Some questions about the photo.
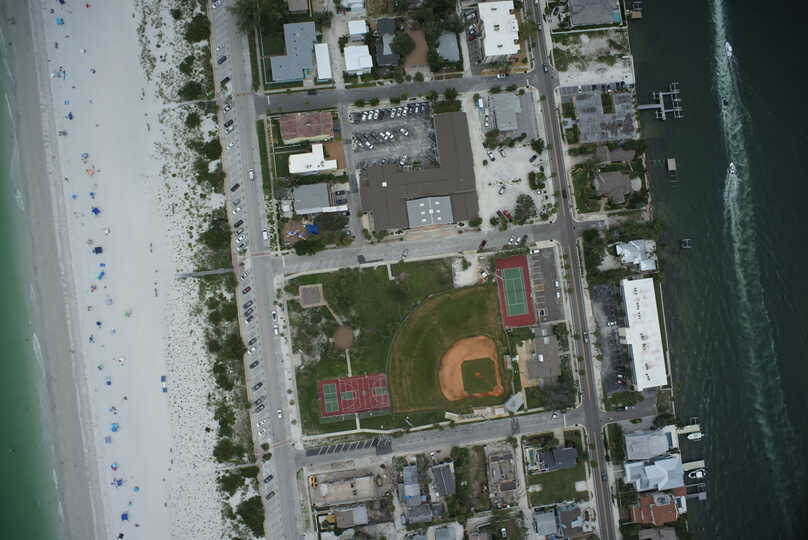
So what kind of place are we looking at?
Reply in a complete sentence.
This looks like a beach.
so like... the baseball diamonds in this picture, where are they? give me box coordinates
[388,284,513,413]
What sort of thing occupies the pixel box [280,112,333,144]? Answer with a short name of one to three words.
building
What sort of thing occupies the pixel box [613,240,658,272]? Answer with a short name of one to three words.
house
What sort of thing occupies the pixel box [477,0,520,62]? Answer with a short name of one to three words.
building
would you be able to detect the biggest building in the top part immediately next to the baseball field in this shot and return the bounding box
[360,111,481,231]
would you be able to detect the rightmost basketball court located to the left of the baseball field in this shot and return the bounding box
[339,373,390,413]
